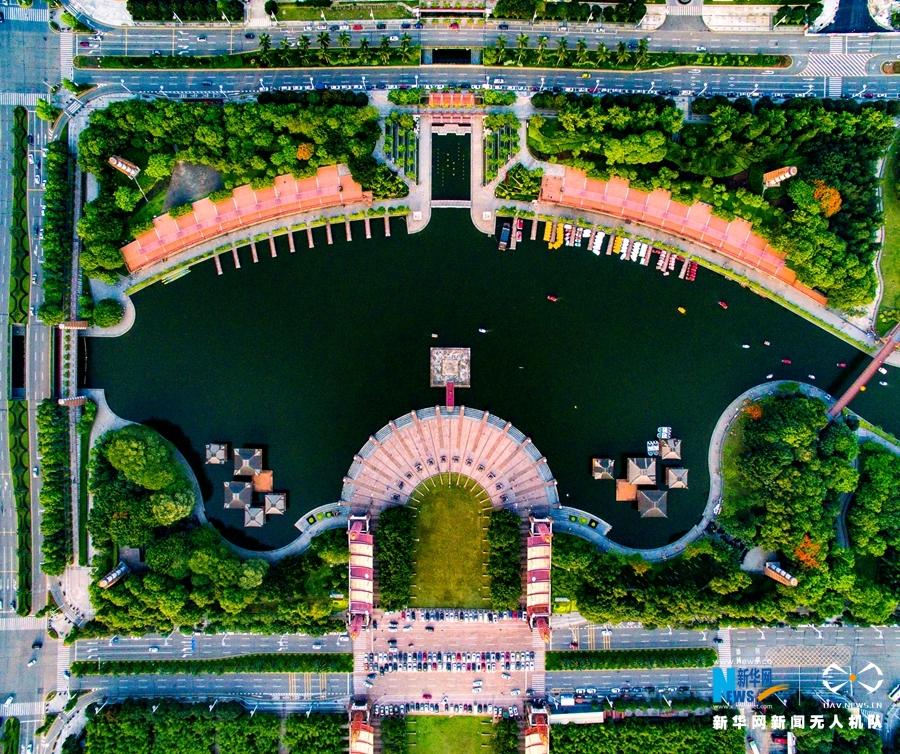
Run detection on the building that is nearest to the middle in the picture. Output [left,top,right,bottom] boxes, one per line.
[592,458,614,479]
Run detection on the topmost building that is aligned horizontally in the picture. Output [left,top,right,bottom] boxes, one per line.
[430,93,475,108]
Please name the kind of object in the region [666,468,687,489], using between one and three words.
building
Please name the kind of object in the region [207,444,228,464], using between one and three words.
building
